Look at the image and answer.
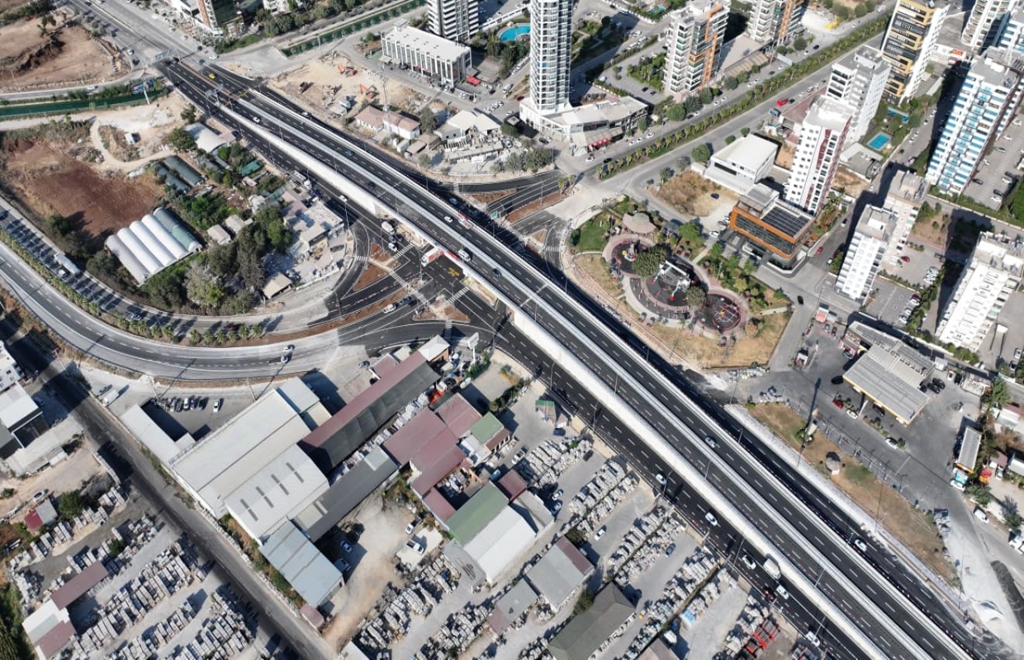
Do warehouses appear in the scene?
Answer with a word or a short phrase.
Yes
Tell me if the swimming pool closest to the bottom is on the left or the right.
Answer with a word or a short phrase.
right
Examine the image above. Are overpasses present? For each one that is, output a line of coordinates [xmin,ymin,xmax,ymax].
[219,89,974,660]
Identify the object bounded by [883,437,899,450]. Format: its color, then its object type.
white vehicle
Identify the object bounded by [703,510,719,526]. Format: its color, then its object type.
white car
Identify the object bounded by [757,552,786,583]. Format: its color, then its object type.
white truck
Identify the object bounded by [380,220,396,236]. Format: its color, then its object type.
white vehicle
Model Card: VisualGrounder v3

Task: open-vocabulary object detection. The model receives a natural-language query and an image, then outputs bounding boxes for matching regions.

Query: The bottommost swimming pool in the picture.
[864,129,894,151]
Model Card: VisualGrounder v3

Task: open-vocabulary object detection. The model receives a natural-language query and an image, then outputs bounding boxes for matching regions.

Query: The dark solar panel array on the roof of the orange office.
[758,202,810,238]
